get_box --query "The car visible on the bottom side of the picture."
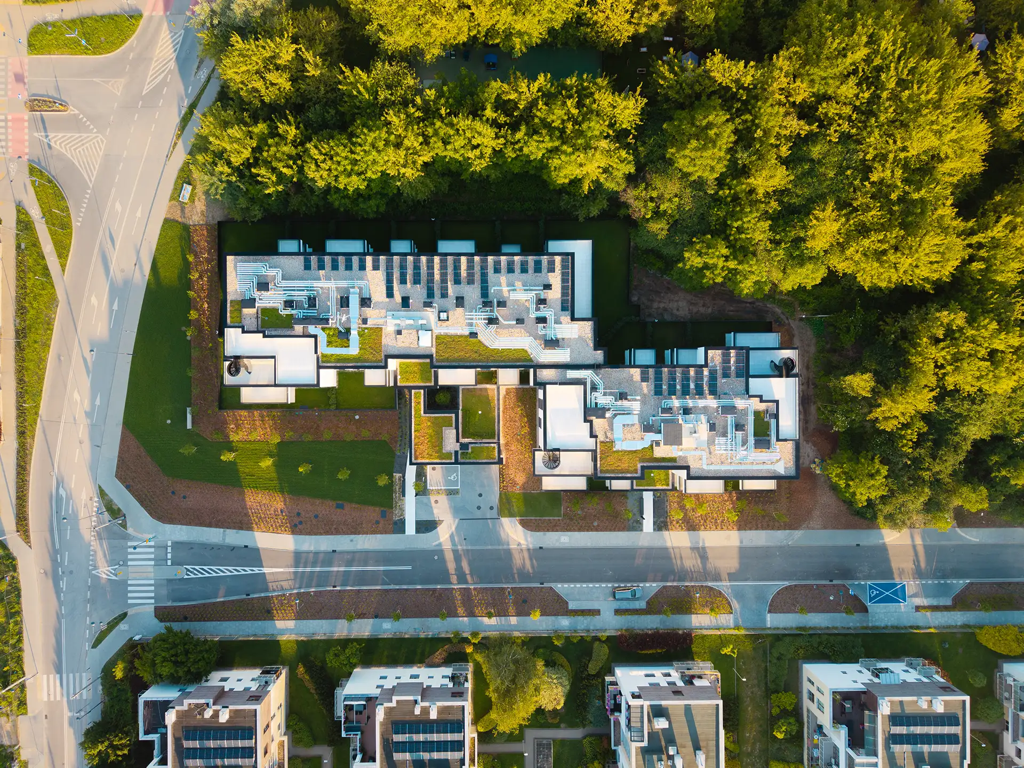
[613,587,644,602]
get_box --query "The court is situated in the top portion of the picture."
[521,33,603,93]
